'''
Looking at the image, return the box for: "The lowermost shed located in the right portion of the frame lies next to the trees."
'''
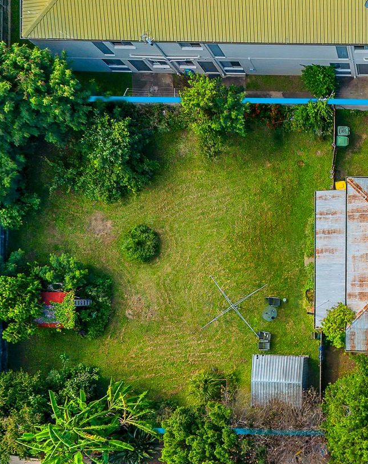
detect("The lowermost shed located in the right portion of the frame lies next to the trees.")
[250,354,306,409]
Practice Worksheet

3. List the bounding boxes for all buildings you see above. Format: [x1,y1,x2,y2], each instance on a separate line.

[250,354,306,409]
[312,174,368,354]
[18,0,368,78]
[27,291,93,327]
